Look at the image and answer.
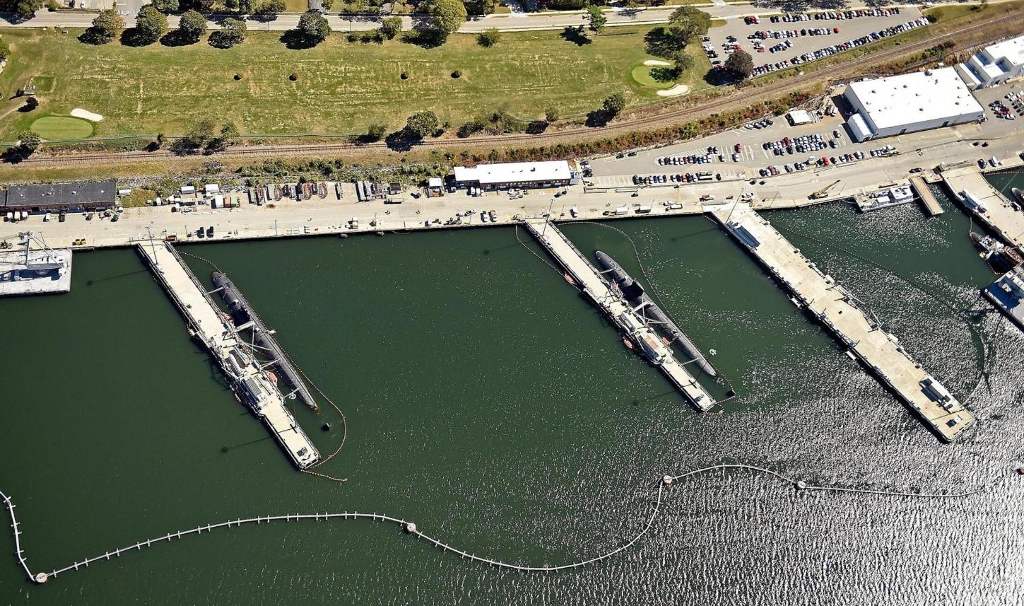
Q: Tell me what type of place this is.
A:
port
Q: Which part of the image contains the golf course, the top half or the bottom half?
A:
top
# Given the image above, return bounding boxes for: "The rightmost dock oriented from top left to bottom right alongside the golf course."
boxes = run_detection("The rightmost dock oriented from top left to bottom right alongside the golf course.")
[711,210,974,442]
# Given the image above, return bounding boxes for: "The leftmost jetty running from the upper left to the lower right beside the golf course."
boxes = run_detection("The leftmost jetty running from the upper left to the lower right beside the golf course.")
[136,242,320,472]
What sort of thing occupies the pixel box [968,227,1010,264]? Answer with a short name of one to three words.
boat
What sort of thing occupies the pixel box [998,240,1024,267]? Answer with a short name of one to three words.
boat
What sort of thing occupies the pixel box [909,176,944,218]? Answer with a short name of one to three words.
pier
